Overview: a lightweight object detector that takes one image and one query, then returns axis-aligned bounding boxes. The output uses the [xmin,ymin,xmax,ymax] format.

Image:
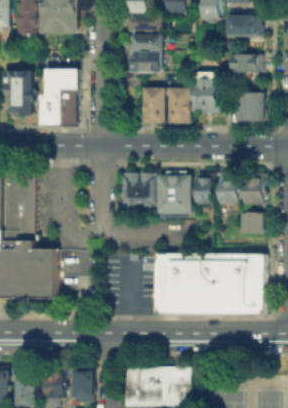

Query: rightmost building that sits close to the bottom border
[126,368,192,408]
